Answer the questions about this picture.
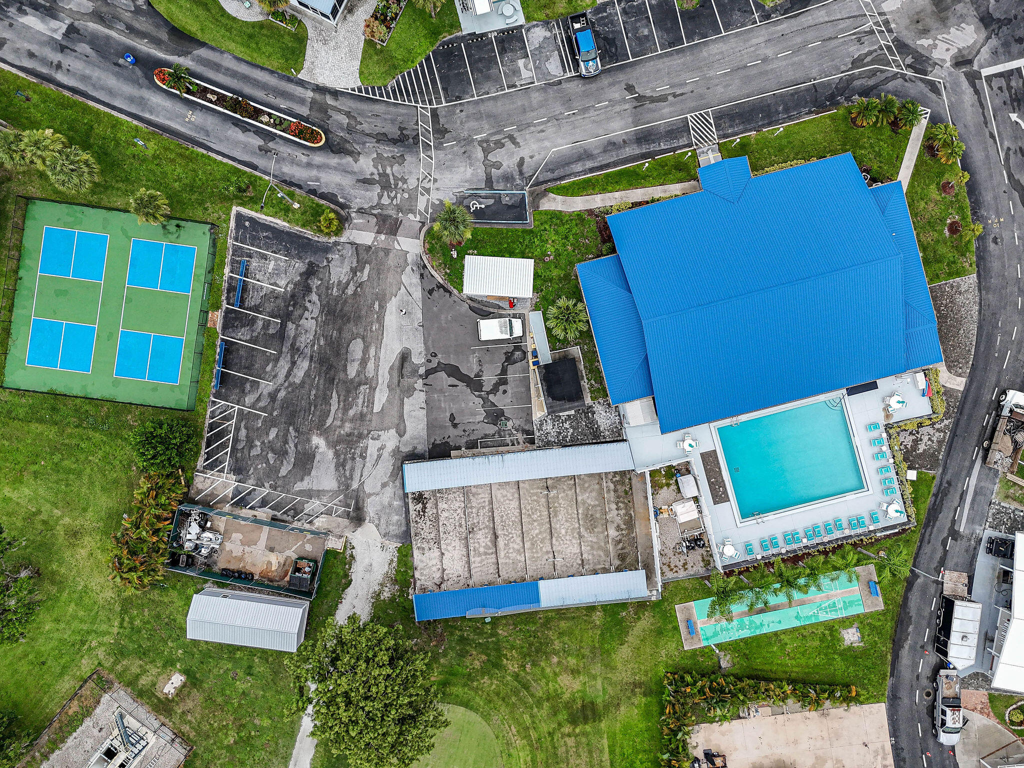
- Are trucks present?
Yes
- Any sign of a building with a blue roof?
Yes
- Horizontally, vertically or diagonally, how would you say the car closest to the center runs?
horizontally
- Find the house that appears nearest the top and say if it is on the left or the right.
left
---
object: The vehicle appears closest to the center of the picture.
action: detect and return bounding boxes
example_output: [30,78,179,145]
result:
[476,317,523,341]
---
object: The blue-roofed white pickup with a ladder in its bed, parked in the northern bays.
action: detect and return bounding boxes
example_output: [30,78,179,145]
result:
[567,10,601,80]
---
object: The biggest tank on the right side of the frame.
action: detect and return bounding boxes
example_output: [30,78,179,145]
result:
[669,497,704,542]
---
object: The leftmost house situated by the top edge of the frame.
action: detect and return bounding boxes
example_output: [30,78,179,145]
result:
[292,0,350,35]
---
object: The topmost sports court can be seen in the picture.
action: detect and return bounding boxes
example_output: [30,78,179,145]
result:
[3,199,210,409]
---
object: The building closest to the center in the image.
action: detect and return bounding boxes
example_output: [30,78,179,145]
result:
[538,358,586,414]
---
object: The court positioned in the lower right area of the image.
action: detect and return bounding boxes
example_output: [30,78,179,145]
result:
[675,565,885,650]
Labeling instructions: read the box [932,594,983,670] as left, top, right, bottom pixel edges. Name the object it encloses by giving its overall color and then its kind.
white trailer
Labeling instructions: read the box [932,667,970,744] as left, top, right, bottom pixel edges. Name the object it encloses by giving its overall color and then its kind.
gray truck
